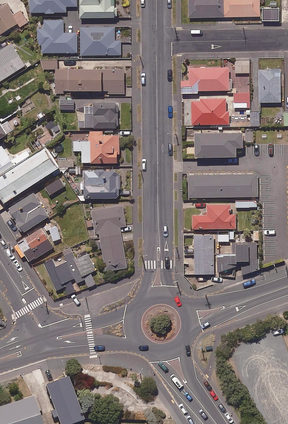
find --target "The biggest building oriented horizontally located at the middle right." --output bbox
[188,173,260,198]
